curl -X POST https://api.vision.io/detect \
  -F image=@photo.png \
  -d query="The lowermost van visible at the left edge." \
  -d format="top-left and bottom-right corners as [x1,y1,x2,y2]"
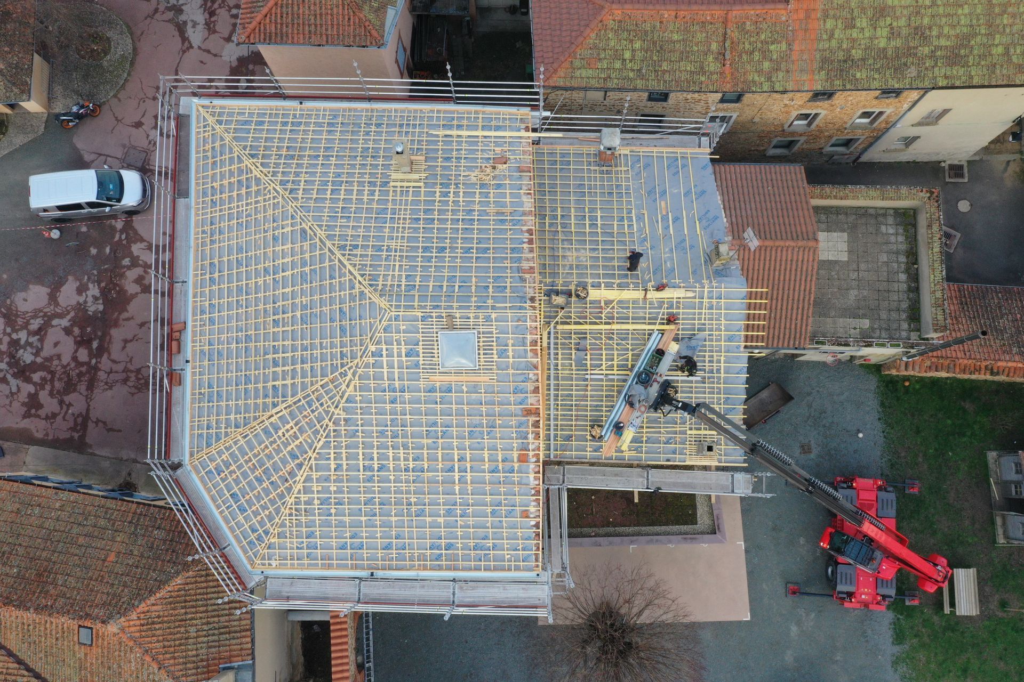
[29,164,159,223]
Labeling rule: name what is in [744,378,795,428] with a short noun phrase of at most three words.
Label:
trailer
